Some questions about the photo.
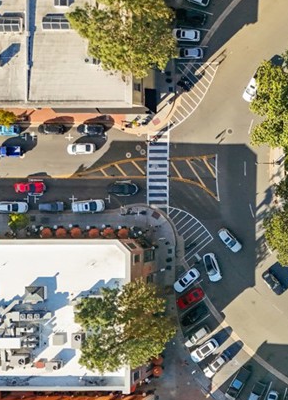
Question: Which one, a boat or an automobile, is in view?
automobile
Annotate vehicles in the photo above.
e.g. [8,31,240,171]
[38,200,66,214]
[201,347,236,378]
[178,48,205,60]
[68,141,97,155]
[202,251,224,283]
[39,121,68,136]
[245,378,270,400]
[177,8,209,26]
[15,180,48,194]
[174,28,202,42]
[176,288,206,309]
[187,0,212,8]
[216,226,245,254]
[0,200,30,214]
[266,389,280,400]
[261,269,287,296]
[79,122,107,136]
[180,301,212,326]
[0,144,25,158]
[173,267,202,292]
[222,366,253,400]
[71,198,106,212]
[242,71,262,101]
[188,336,221,363]
[182,322,214,350]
